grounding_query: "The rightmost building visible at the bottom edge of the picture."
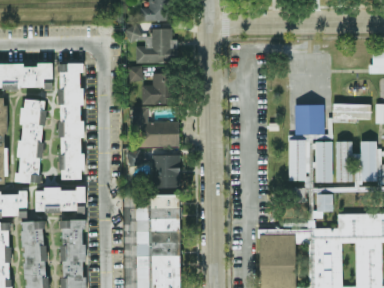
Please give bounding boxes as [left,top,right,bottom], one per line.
[312,214,384,288]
